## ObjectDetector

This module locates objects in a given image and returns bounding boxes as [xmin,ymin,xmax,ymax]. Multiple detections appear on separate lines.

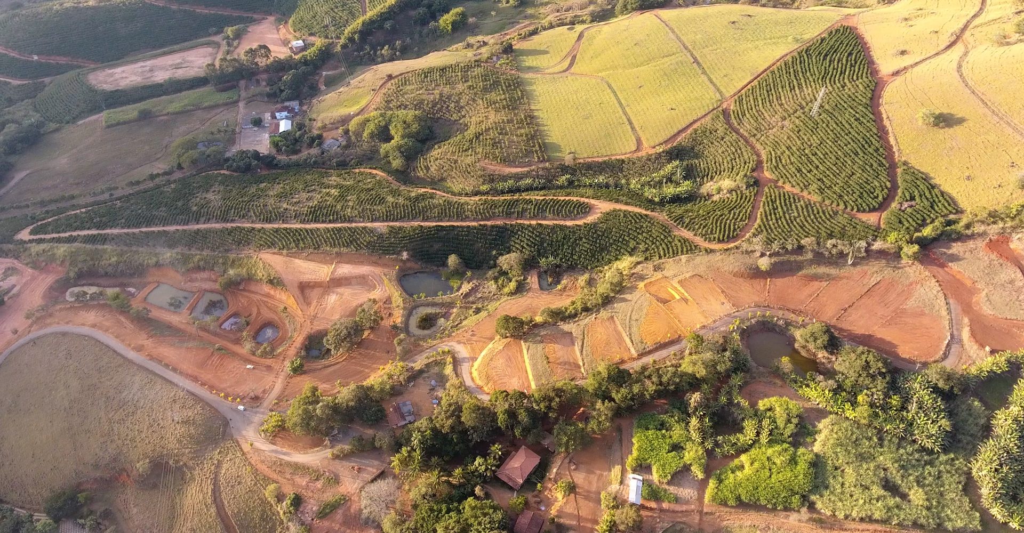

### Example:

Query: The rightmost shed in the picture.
[627,471,643,507]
